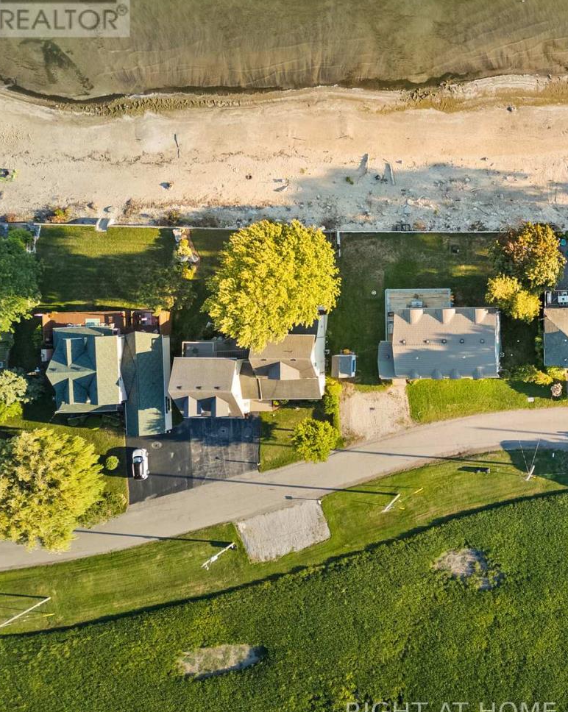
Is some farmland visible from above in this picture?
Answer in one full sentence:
Yes, some farmland is visible.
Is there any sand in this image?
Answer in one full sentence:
Yes, there is sand in the image.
